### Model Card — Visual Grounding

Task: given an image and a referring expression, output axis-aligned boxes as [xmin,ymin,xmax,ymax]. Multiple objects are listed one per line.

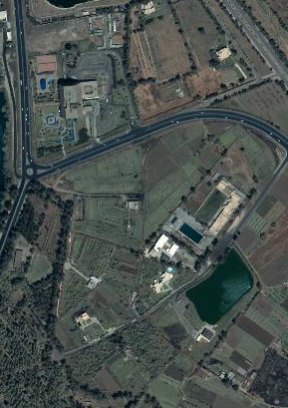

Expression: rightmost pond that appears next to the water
[186,247,253,324]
